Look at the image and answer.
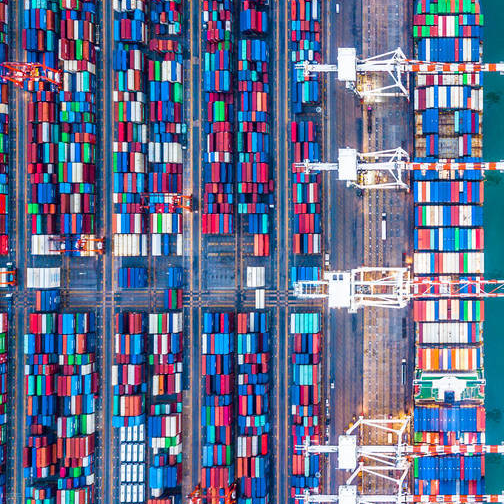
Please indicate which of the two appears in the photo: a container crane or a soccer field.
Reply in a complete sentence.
Of the two, only a container crane appears.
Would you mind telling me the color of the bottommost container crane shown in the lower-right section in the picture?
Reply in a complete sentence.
The bottommost container crane shown in the lower-right section is white.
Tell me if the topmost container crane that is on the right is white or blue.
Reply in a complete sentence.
The topmost container crane that is on the right is white.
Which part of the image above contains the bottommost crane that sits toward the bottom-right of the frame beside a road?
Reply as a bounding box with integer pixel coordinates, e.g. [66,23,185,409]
[295,456,504,504]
